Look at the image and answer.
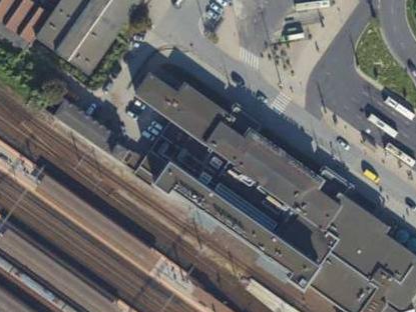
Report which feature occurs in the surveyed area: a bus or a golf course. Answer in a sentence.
Of the two, only a bus appears.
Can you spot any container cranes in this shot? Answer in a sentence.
No, I can't see a single container crane in this photo.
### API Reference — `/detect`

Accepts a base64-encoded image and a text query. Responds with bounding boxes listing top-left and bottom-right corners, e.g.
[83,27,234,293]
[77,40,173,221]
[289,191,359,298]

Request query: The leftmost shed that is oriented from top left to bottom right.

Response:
[56,99,112,153]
